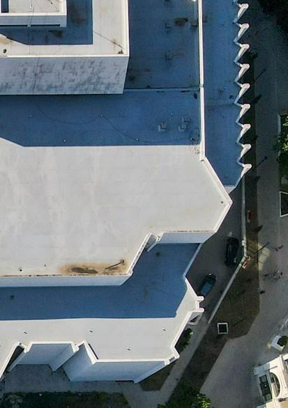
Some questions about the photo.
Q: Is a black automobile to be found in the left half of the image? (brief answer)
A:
No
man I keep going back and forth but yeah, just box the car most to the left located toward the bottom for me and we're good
[197,273,218,299]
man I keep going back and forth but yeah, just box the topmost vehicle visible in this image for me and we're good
[224,238,240,266]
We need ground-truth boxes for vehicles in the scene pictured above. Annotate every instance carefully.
[224,238,240,266]
[197,273,218,299]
